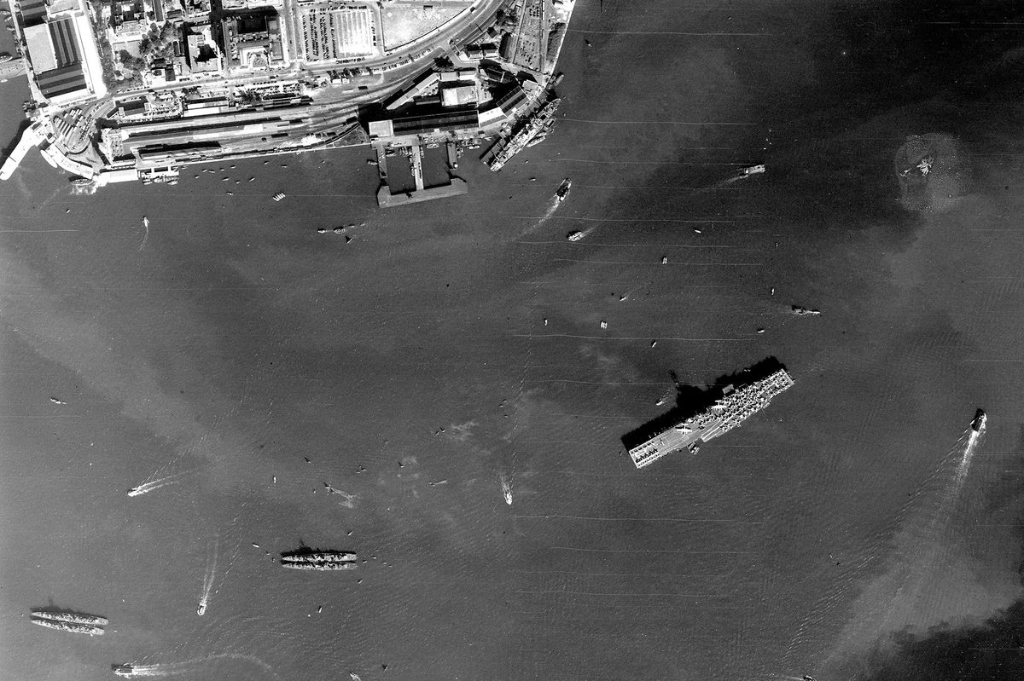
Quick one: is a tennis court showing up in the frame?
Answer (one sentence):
No, the scene contains no tennis court.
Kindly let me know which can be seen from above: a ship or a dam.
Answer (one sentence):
Looking from above, you can make out a ship.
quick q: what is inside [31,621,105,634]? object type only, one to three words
ship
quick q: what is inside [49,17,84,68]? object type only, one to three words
building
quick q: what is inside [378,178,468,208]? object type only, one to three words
pier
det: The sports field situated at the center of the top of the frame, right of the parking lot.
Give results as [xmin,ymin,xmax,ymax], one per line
[383,6,465,49]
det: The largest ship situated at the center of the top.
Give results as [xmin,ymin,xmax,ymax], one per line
[491,97,561,171]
